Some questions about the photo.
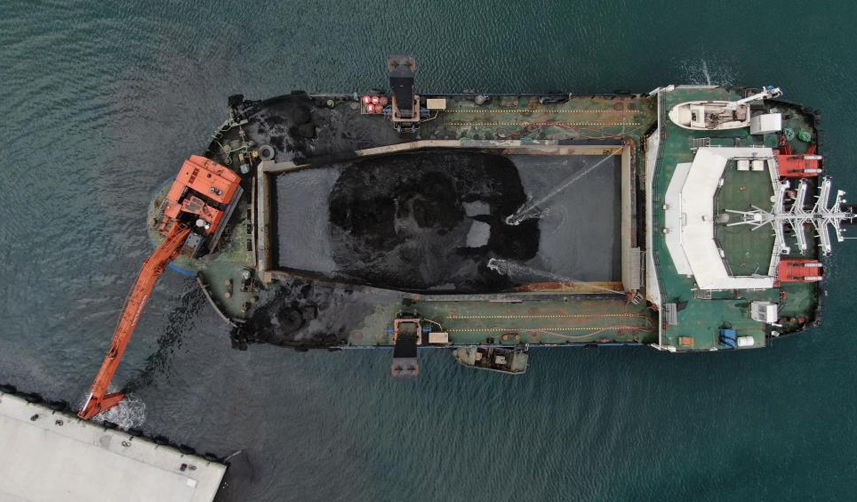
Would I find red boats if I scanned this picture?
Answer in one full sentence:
No, there's no red boat here.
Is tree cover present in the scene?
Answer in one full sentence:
No, there is no tree cover in the image.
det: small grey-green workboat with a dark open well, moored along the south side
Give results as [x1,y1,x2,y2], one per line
[452,347,530,374]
